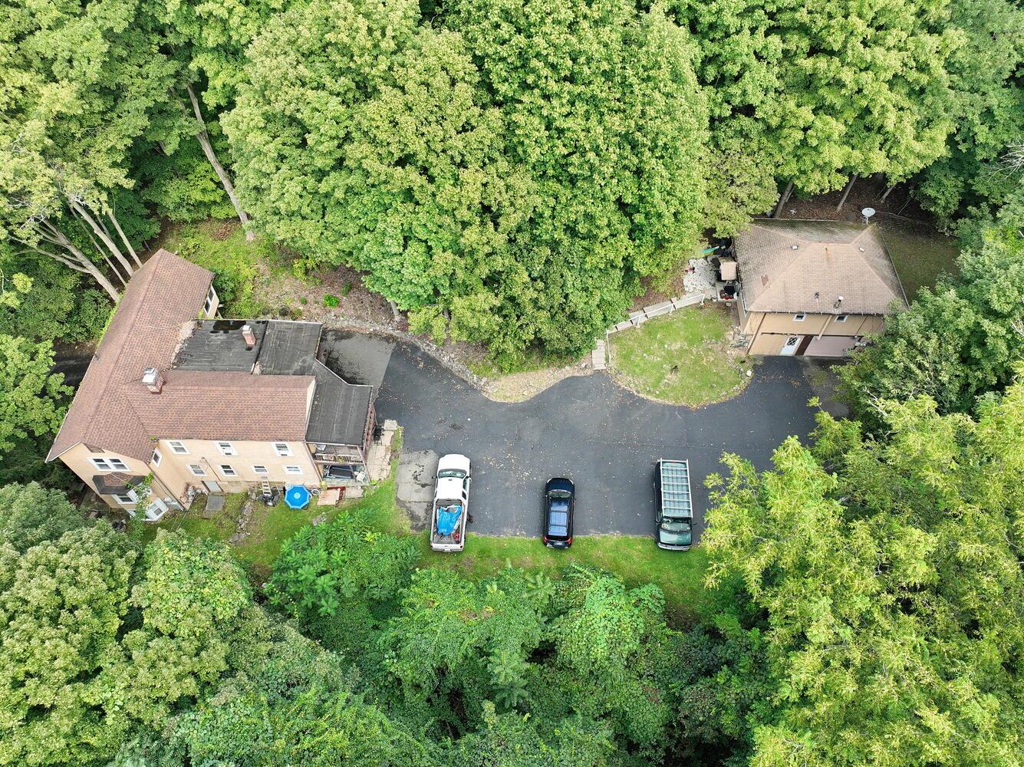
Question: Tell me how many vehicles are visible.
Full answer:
The count of vehicles comes to 3.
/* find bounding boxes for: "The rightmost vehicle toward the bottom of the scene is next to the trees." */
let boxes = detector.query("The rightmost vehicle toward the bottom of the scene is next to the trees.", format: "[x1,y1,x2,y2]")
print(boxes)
[653,458,699,552]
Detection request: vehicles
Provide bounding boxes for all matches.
[653,458,699,552]
[430,455,472,552]
[542,480,579,548]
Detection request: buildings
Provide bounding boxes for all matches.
[727,219,910,358]
[47,249,393,528]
